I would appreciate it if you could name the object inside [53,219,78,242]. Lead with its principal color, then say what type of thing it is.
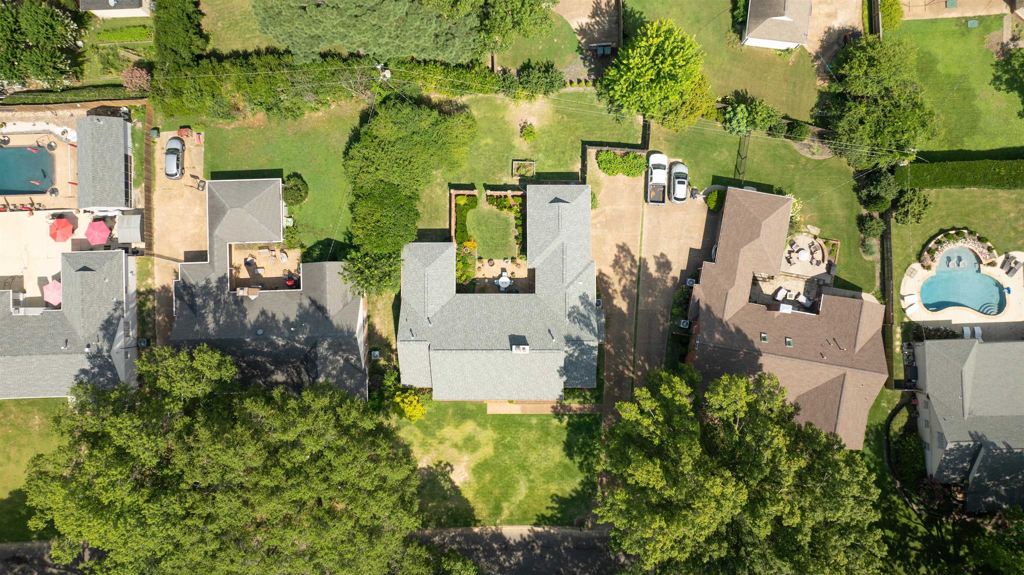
red umbrella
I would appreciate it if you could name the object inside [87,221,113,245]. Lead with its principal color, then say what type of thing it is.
pink umbrella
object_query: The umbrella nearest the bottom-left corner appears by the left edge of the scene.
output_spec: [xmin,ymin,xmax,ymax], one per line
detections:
[44,279,61,306]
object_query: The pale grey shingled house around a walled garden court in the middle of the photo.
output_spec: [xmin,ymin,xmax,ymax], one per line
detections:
[396,185,605,400]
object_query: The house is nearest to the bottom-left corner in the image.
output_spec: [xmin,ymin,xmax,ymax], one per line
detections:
[0,250,137,399]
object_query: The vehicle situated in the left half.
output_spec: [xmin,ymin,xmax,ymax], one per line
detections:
[161,138,184,179]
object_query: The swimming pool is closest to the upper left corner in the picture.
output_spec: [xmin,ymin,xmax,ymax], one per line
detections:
[0,147,55,195]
